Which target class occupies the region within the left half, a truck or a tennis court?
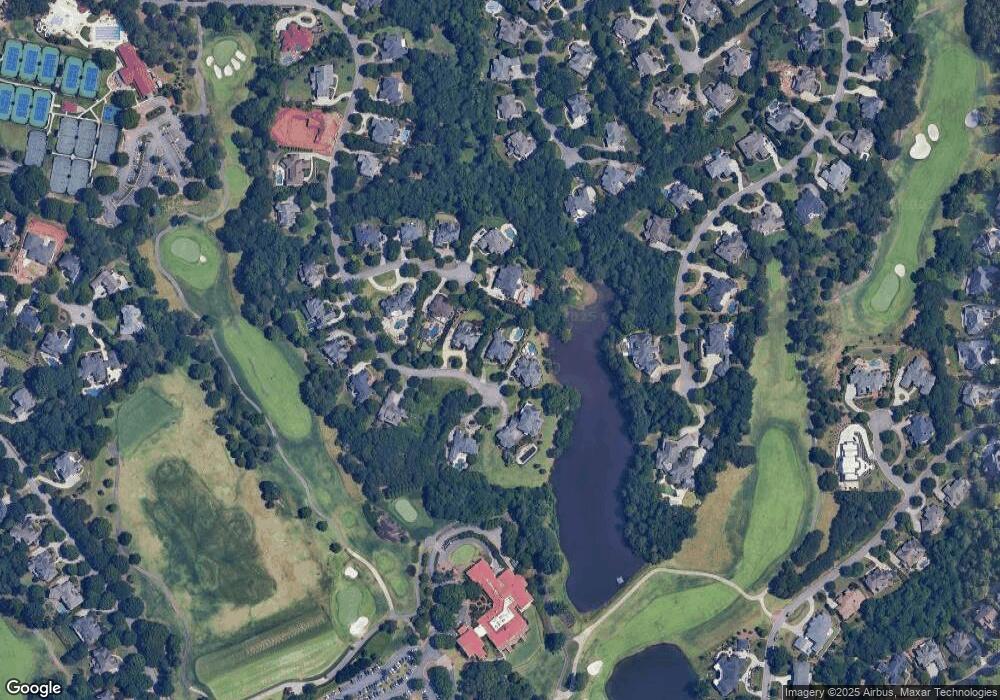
tennis court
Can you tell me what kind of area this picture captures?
residential area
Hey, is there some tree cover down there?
Yes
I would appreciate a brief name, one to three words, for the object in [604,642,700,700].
pond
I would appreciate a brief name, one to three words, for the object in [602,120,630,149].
house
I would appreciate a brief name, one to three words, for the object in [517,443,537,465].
swimming pool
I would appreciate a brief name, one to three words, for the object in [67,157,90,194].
tennis court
